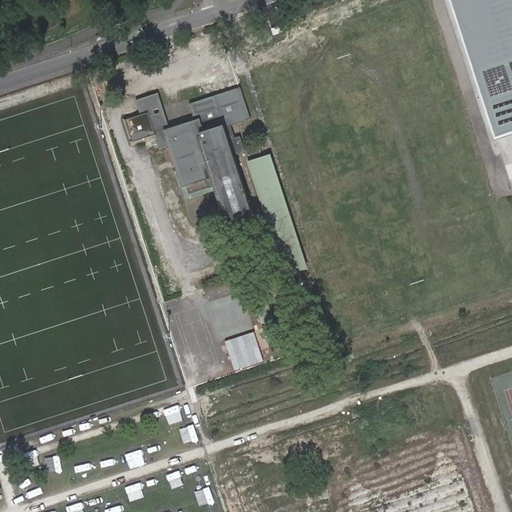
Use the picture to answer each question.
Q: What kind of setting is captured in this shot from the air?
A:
sports ground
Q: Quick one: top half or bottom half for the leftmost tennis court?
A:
bottom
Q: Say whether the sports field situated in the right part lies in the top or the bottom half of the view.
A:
top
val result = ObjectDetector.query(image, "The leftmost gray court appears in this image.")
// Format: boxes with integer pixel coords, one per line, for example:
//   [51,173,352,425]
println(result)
[174,304,218,370]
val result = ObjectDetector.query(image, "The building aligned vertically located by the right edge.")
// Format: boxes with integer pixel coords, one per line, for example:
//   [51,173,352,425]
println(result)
[446,0,512,138]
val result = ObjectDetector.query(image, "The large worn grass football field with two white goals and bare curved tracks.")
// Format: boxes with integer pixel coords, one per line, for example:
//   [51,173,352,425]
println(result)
[240,0,512,342]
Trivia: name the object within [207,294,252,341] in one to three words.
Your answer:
sports court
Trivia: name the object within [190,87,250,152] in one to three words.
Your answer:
building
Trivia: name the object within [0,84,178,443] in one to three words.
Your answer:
sports field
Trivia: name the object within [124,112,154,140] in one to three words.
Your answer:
building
